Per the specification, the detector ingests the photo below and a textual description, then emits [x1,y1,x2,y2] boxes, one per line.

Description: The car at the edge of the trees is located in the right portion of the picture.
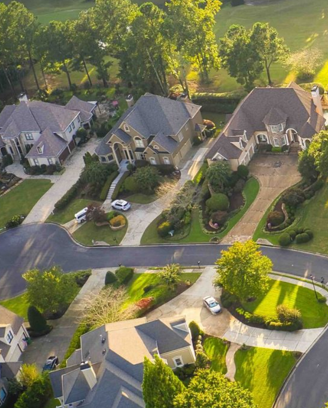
[202,292,221,316]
